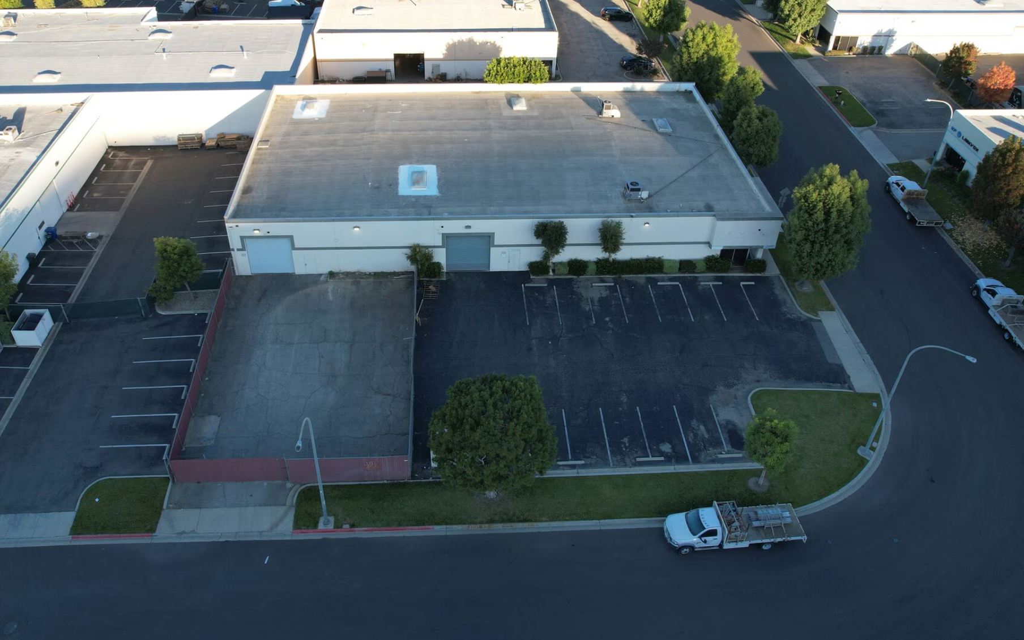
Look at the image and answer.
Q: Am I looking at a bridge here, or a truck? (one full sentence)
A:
Of the two, only a truck appears.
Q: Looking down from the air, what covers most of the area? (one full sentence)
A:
The bulk of the photo consists of paved ground.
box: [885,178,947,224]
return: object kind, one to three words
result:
truck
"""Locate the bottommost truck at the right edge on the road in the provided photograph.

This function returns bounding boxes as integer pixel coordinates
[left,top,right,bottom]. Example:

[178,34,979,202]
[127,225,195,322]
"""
[973,281,1024,340]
